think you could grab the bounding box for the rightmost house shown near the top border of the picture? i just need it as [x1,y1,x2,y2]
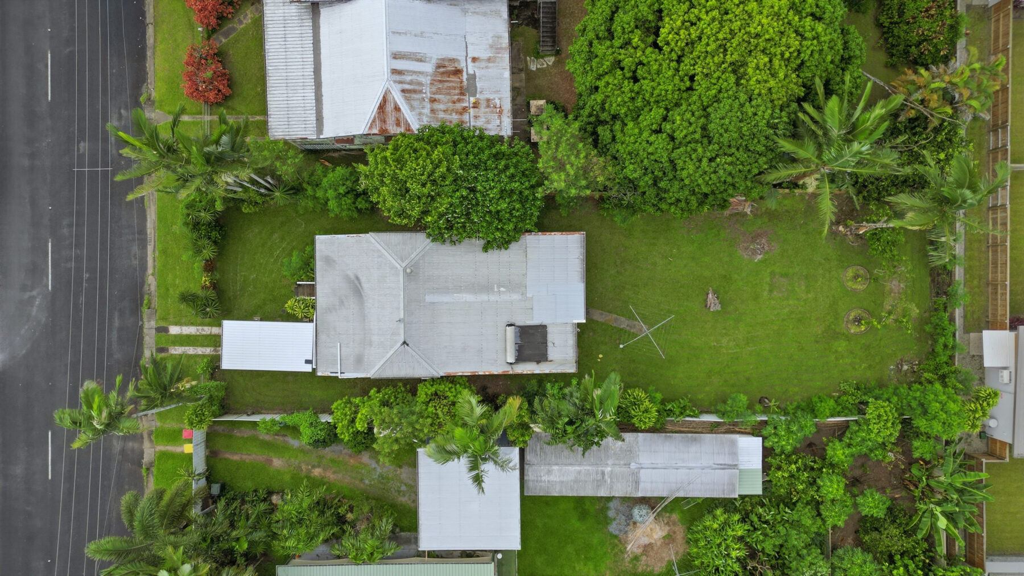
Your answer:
[263,0,527,151]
